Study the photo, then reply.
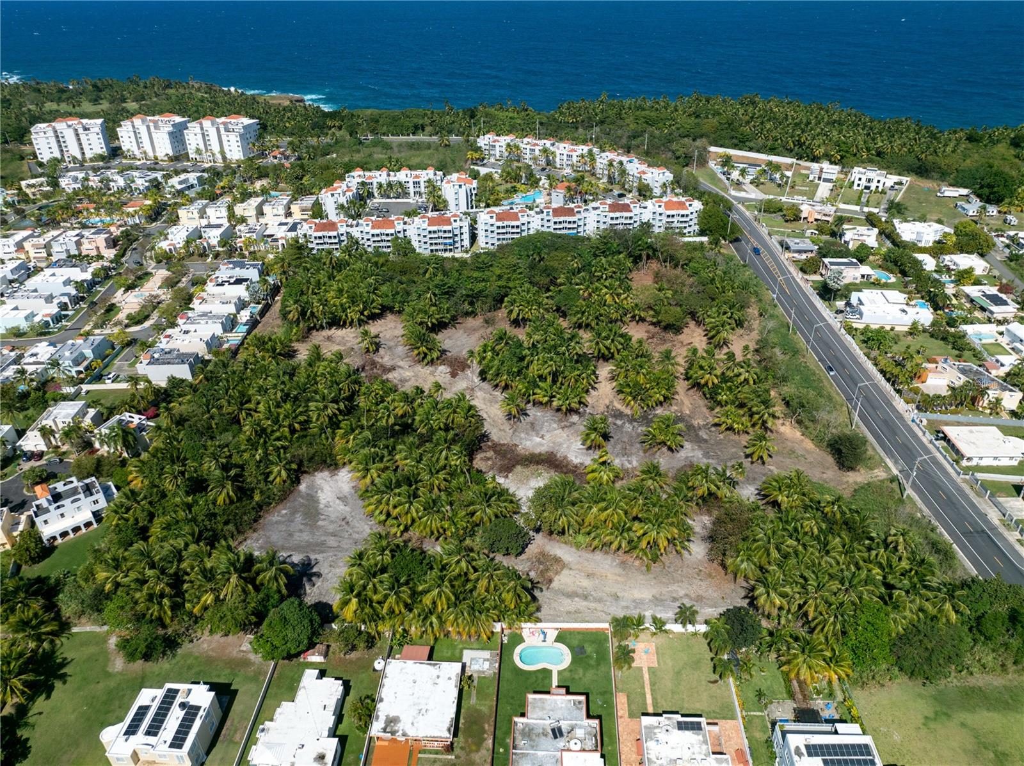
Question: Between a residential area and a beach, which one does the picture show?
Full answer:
It's a residential area.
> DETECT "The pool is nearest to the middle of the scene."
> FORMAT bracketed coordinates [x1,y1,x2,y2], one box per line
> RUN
[505,190,543,205]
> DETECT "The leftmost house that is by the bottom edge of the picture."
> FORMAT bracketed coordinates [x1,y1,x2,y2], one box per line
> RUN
[98,678,222,766]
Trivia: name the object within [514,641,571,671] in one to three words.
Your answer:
swimming pool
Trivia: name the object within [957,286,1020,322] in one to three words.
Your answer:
house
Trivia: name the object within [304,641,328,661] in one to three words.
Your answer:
shed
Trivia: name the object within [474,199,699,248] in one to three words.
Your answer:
building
